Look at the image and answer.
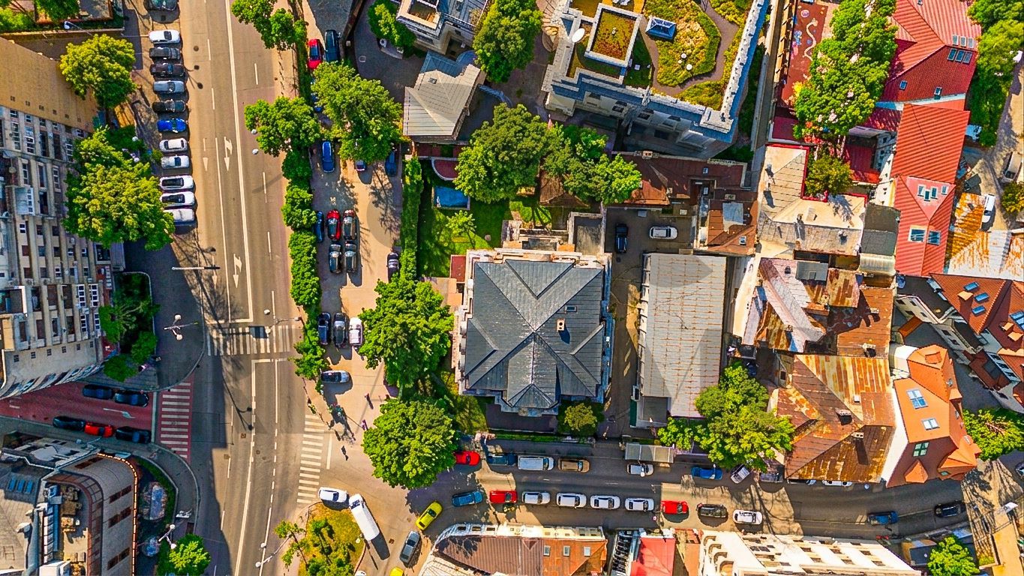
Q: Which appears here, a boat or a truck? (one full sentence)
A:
Looking from above, you can make out a truck.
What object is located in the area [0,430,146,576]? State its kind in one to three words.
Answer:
building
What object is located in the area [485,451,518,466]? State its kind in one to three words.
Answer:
car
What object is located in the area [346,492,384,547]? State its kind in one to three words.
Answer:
truck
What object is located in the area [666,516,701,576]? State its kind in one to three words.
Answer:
house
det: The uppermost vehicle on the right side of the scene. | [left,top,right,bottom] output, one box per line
[997,150,1024,186]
